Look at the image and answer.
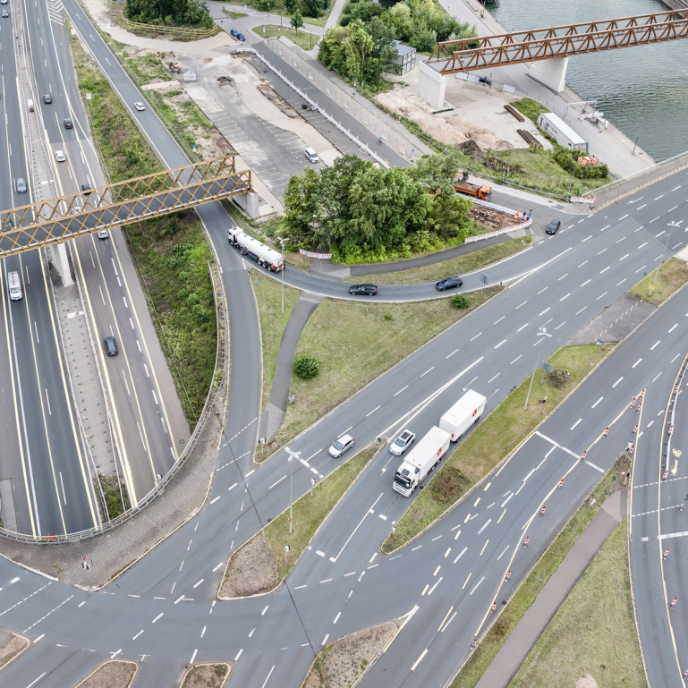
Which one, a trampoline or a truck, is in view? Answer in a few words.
truck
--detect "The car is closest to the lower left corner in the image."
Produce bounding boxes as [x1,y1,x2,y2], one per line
[103,335,117,354]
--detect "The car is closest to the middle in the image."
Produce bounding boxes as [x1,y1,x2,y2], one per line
[348,280,379,295]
